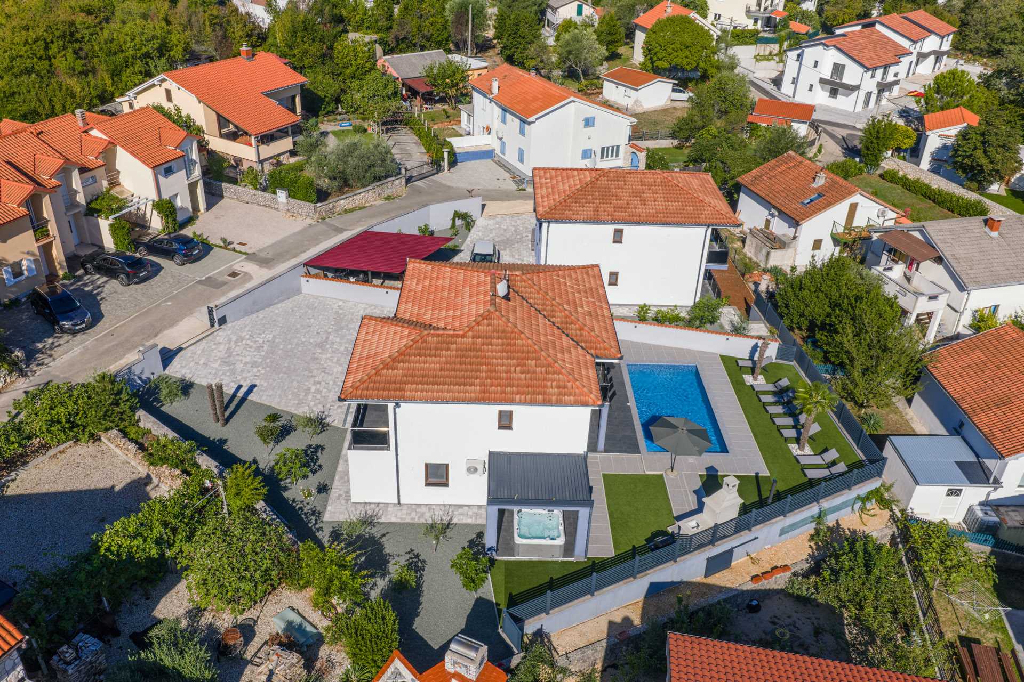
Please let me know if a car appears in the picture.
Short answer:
Yes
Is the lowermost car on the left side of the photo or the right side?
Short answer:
left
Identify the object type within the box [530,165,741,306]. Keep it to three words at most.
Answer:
house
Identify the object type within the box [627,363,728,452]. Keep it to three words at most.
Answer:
swimming pool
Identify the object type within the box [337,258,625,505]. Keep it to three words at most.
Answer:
house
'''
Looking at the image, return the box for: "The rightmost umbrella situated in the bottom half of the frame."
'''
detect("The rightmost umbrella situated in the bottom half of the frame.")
[650,420,711,479]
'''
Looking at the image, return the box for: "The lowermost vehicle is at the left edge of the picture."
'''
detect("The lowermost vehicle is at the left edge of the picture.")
[27,272,88,326]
